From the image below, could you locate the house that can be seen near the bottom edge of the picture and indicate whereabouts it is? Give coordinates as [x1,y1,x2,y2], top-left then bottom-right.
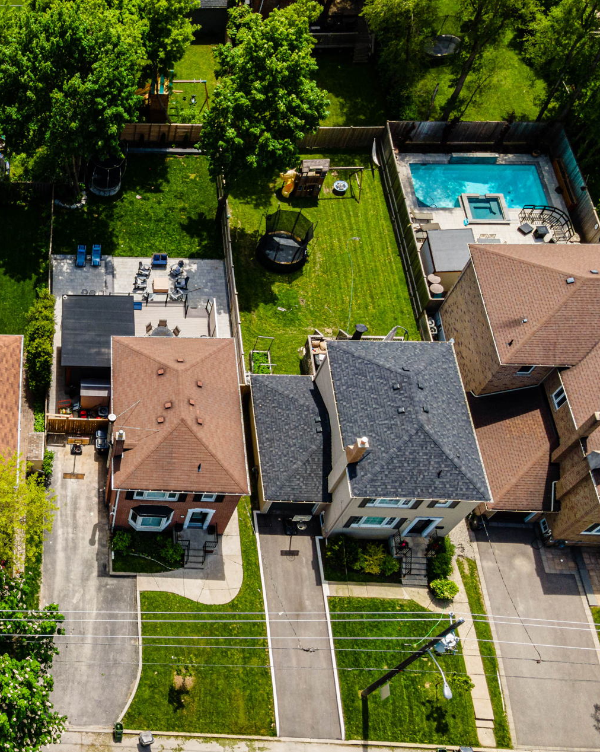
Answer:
[126,498,275,737]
